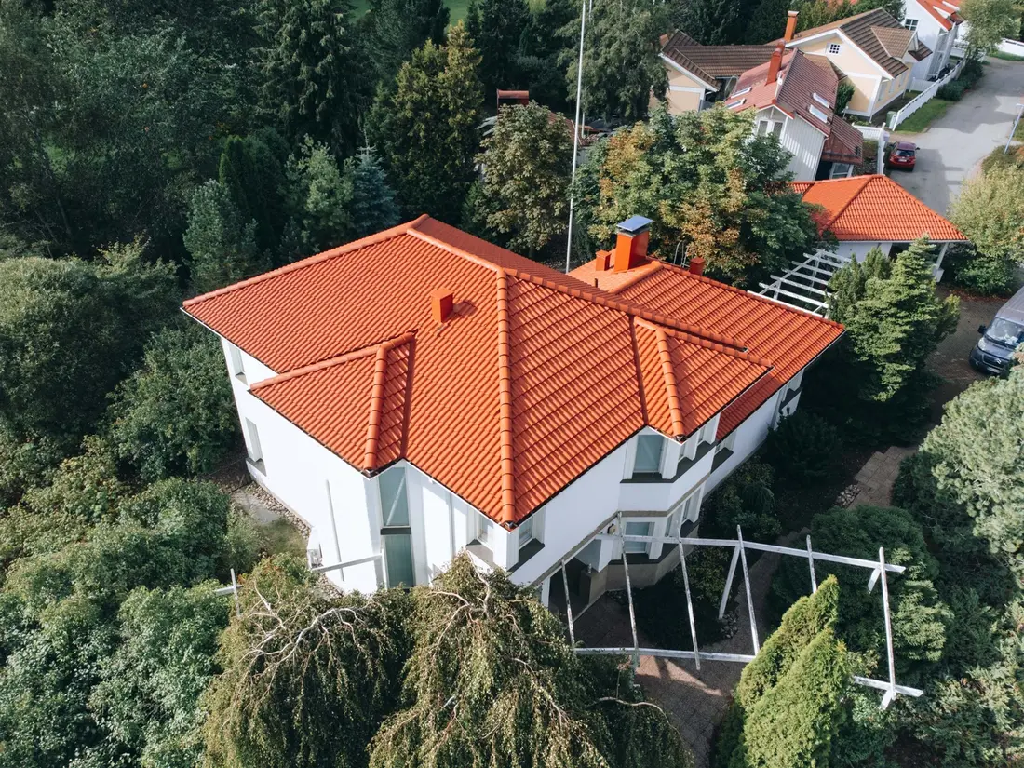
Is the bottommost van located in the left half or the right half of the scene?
right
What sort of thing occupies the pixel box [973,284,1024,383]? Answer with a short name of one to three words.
van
